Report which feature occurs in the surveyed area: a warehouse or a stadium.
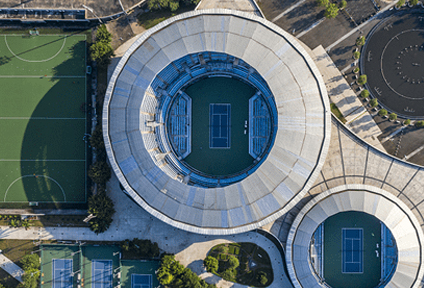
stadium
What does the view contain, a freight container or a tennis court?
tennis court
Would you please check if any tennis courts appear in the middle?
Yes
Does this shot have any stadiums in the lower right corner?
Yes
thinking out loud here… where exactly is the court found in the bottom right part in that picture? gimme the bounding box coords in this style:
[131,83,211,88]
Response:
[340,228,365,273]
